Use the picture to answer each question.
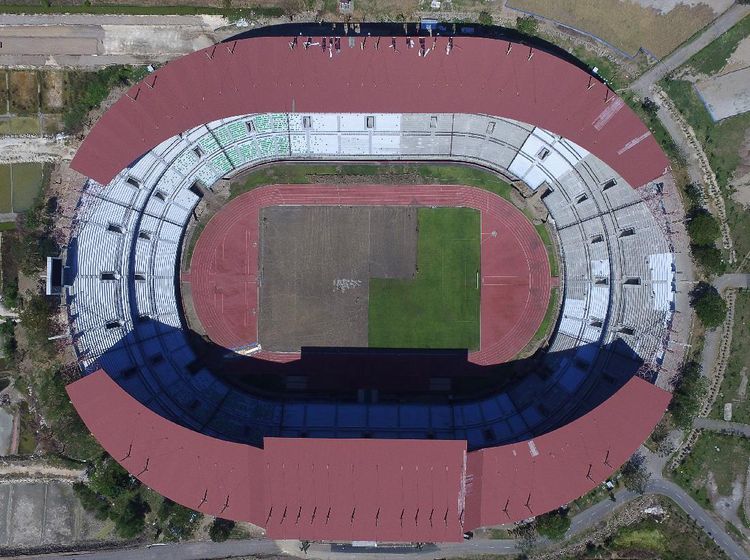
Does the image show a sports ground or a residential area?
sports ground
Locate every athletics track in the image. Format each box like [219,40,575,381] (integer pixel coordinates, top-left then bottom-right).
[179,184,561,371]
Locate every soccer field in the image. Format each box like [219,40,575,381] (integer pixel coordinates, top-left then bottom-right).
[259,206,480,353]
